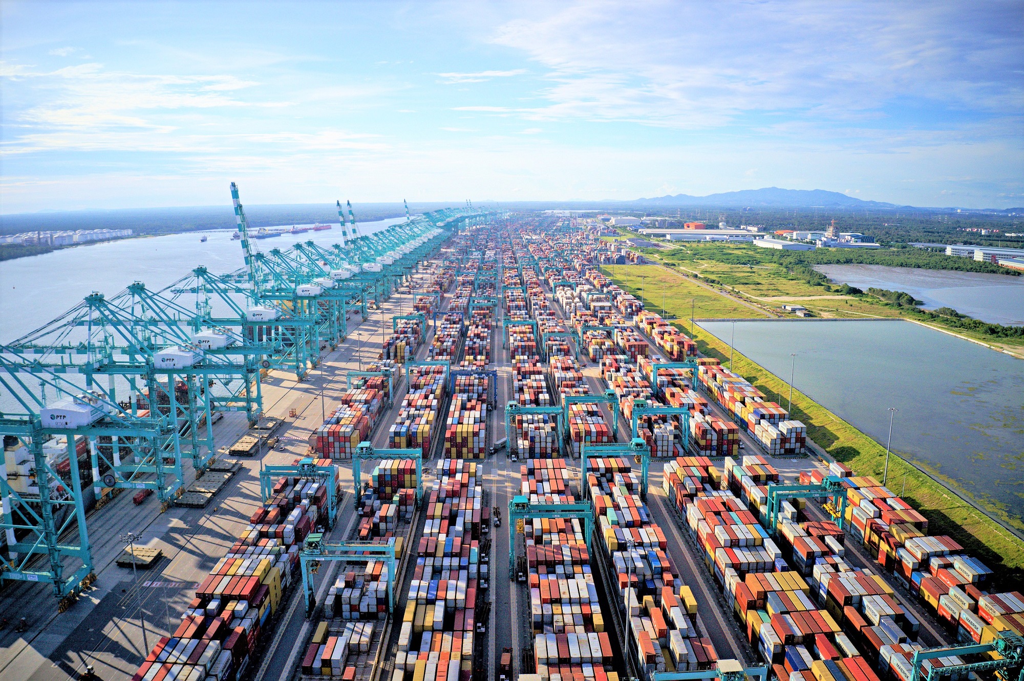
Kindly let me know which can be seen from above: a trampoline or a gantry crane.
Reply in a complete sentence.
Of the two, only a gantry crane appears.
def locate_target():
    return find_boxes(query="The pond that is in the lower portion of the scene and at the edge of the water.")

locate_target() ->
[694,321,1024,536]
